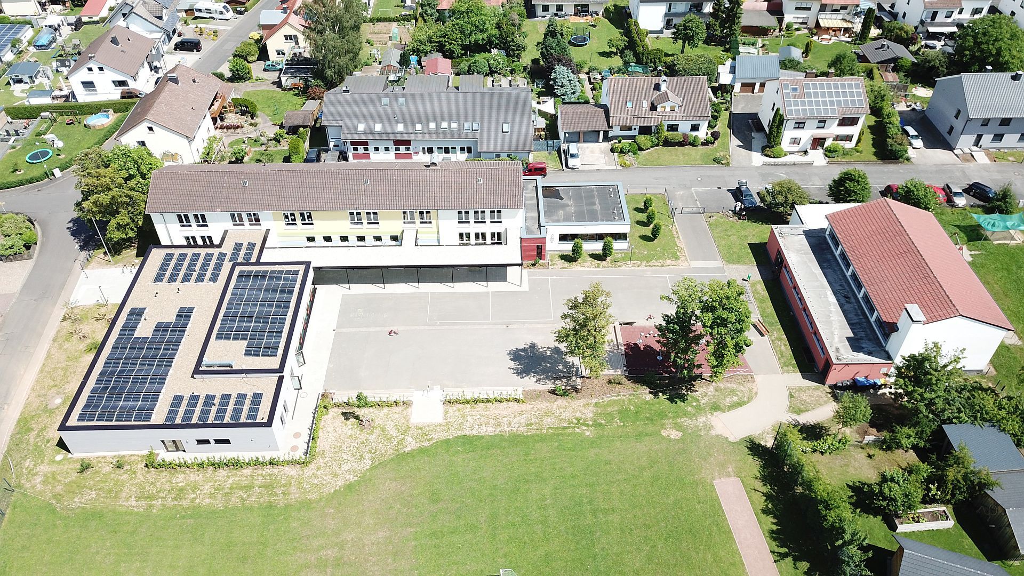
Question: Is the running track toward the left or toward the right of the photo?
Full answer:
The running track appears in the right half of the scene.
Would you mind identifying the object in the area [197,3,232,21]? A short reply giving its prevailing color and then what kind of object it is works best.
white camper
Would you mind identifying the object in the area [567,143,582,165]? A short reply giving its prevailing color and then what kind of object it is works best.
white car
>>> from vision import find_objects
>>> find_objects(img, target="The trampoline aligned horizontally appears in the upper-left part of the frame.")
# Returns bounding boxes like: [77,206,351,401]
[24,149,52,164]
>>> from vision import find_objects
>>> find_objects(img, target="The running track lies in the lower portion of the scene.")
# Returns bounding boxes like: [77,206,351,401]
[714,478,780,576]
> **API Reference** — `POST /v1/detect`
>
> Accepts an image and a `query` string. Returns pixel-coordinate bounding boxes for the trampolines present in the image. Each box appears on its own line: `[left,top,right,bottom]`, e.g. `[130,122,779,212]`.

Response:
[24,149,52,164]
[571,27,591,47]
